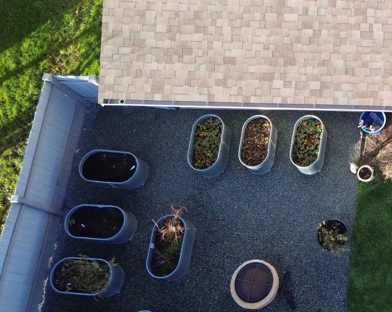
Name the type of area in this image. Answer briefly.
industrial area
